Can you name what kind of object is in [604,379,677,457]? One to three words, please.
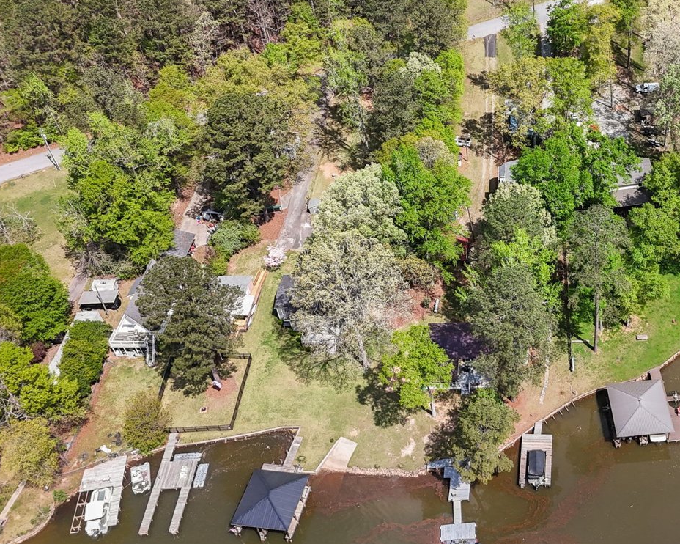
building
